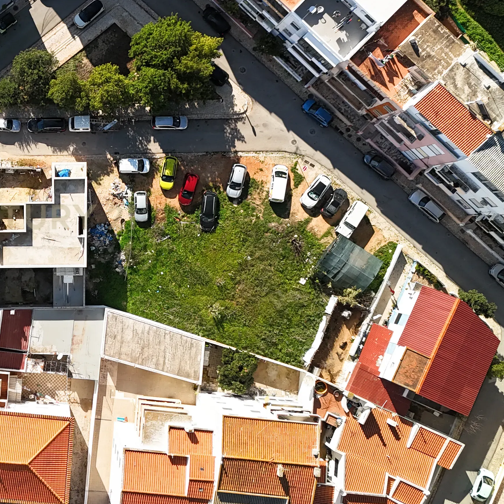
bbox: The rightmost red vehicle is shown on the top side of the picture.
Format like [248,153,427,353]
[177,171,200,207]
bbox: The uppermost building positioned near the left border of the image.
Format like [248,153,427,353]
[0,162,87,309]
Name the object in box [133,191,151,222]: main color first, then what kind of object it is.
white car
